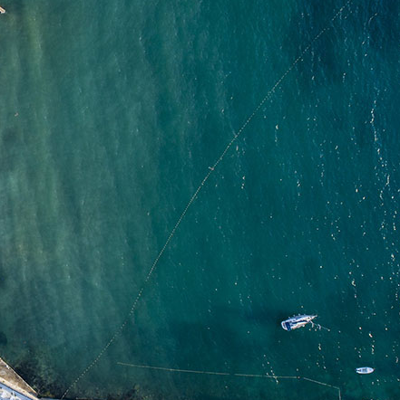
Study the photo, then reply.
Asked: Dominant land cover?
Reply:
water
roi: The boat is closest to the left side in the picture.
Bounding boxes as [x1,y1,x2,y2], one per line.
[279,314,323,330]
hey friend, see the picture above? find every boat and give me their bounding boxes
[354,367,374,374]
[279,314,323,330]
